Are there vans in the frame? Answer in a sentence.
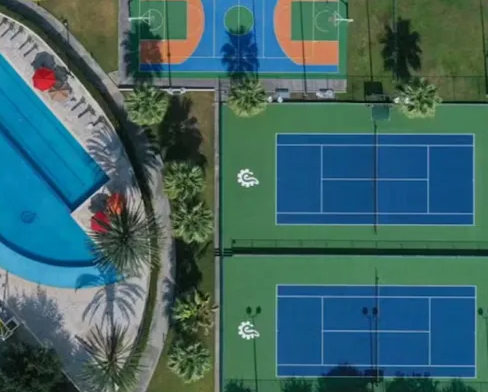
No, there is no van in the image.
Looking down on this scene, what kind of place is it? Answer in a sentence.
The area seen from above is a sports ground.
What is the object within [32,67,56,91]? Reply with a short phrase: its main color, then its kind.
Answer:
red umbrella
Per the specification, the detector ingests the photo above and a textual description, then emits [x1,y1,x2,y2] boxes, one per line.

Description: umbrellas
[107,194,125,212]
[49,84,68,103]
[91,212,110,231]
[32,67,56,91]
